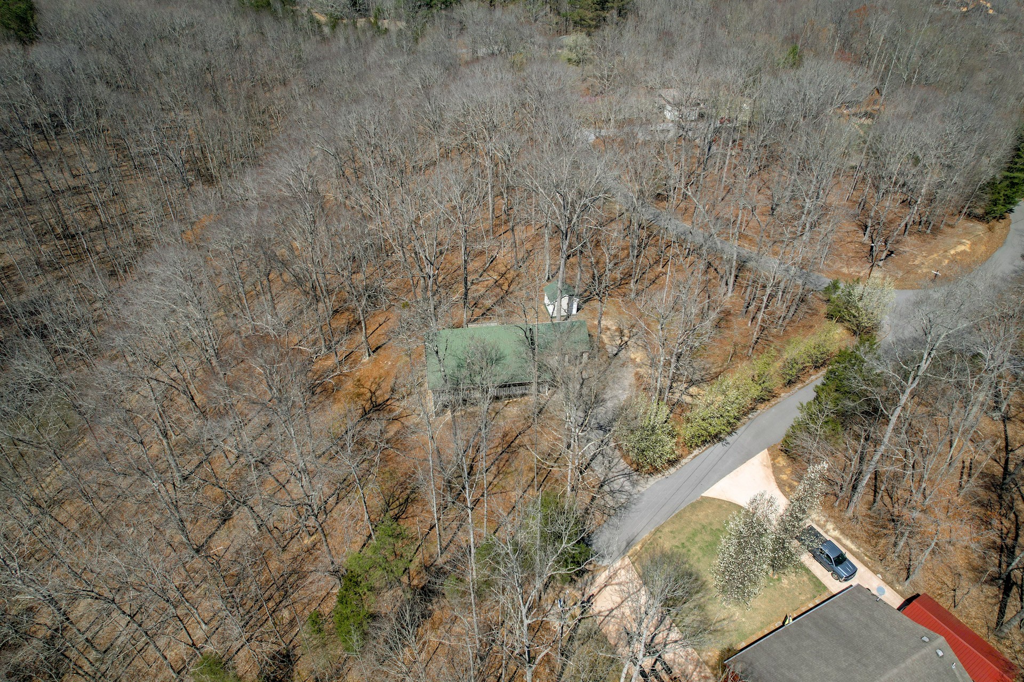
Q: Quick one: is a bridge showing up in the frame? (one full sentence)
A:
No, the frame has no bridge in it.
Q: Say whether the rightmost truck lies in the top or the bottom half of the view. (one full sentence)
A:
Seen from above, the rightmost truck lies in the bottom half of the view.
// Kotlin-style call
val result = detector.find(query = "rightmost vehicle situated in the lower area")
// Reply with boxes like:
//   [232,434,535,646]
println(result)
[796,524,856,583]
